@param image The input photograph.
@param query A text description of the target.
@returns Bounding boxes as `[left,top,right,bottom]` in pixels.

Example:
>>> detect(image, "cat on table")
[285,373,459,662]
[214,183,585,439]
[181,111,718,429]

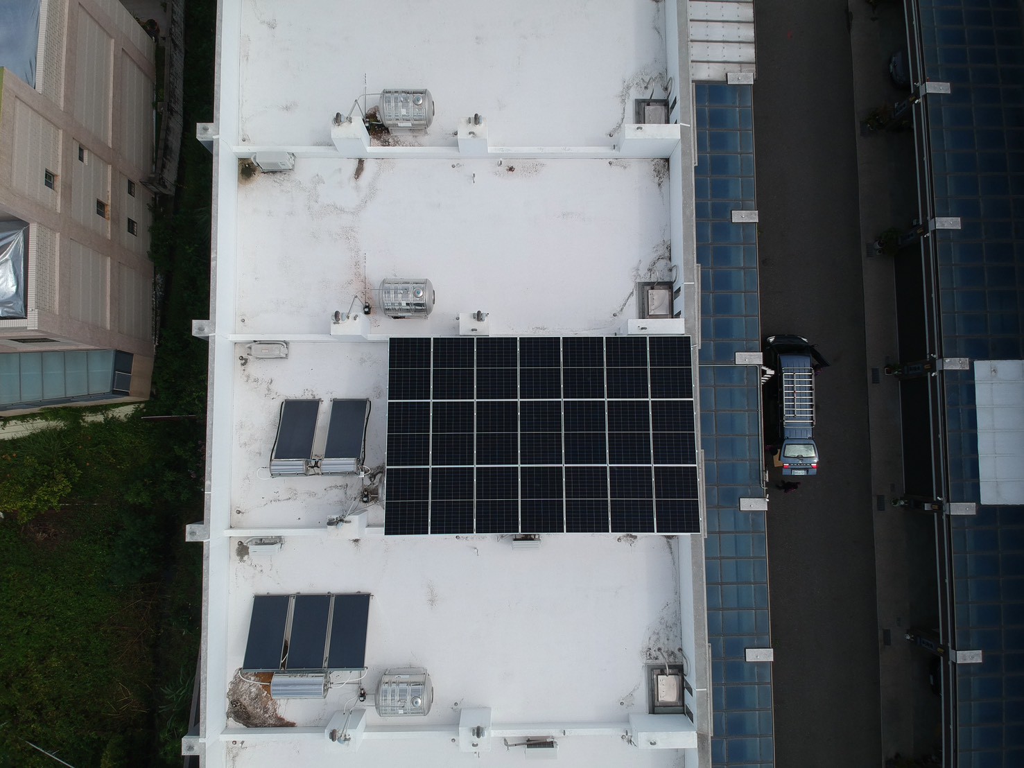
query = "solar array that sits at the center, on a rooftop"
[384,337,702,534]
